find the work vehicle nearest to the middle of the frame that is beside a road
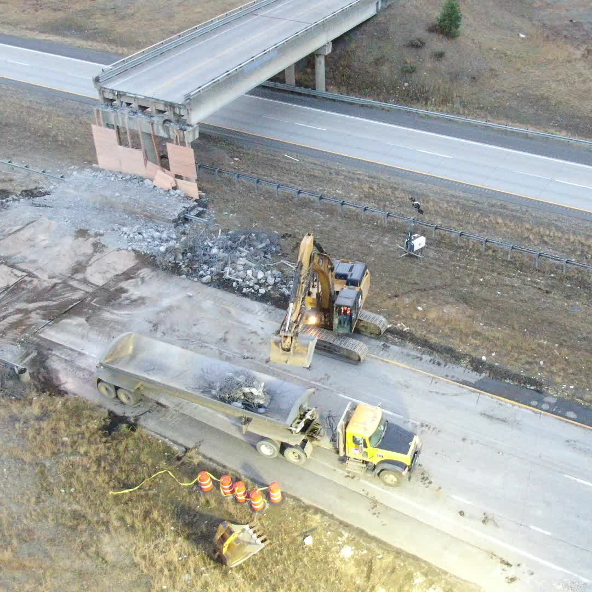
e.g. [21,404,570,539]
[270,231,384,372]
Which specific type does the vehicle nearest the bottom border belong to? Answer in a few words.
truck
